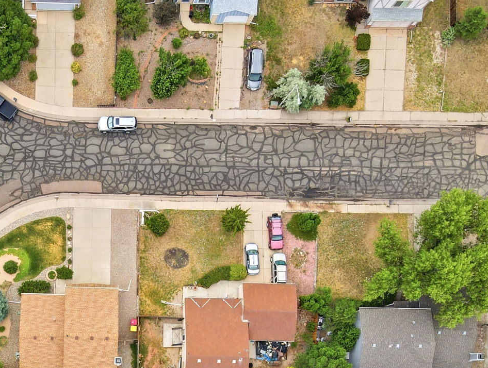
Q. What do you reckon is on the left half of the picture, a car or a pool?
car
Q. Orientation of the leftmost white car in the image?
from left to right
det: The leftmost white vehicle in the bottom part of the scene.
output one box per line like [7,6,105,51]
[241,242,260,276]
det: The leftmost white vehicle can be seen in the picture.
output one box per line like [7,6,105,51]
[97,113,138,134]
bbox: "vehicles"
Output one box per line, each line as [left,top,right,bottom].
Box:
[268,252,288,283]
[0,96,22,124]
[245,47,265,92]
[241,242,260,276]
[266,211,285,252]
[97,113,138,134]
